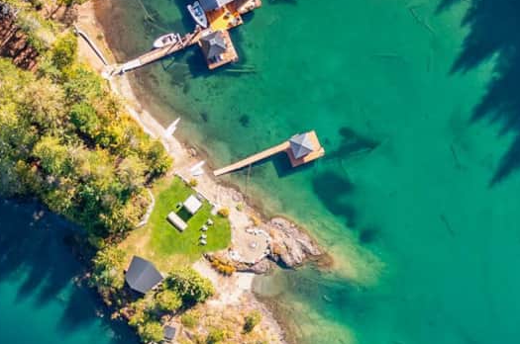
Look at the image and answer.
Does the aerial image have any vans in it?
No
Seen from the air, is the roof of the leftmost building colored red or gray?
gray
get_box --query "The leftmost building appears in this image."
[127,255,166,296]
